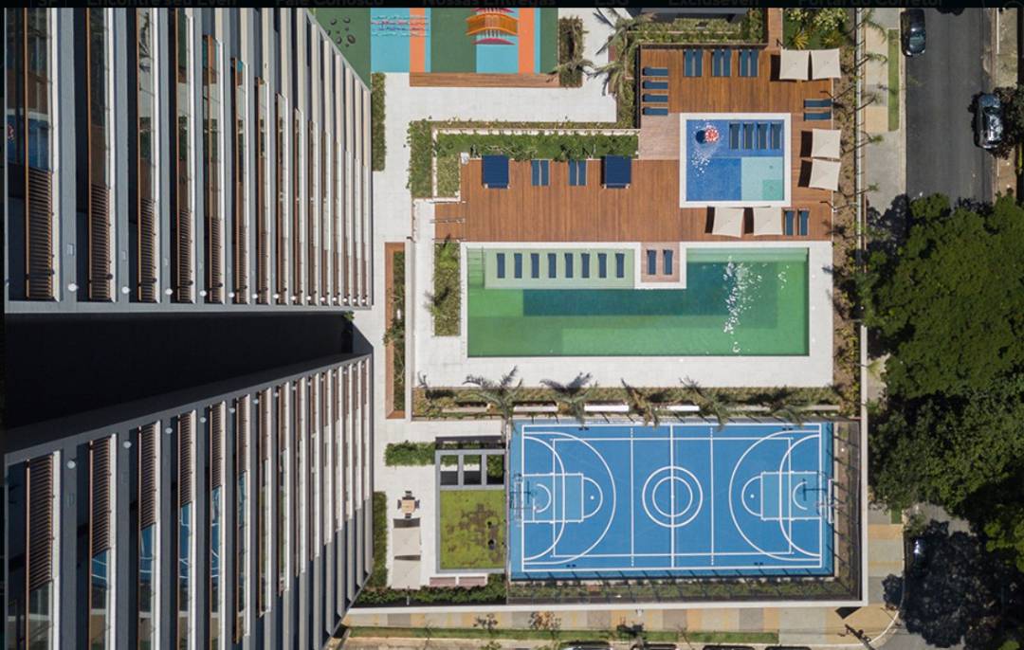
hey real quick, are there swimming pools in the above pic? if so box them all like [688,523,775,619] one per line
[680,113,791,206]
[462,242,815,361]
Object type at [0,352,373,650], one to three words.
building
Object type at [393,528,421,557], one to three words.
umbrella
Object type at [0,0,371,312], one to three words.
building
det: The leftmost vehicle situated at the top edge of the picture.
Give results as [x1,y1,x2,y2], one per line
[899,10,927,59]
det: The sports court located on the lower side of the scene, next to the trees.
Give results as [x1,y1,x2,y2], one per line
[510,419,834,577]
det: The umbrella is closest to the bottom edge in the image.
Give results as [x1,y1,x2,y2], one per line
[392,559,421,589]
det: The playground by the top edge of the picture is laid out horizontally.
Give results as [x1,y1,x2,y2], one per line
[300,0,558,91]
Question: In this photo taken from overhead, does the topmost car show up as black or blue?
black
